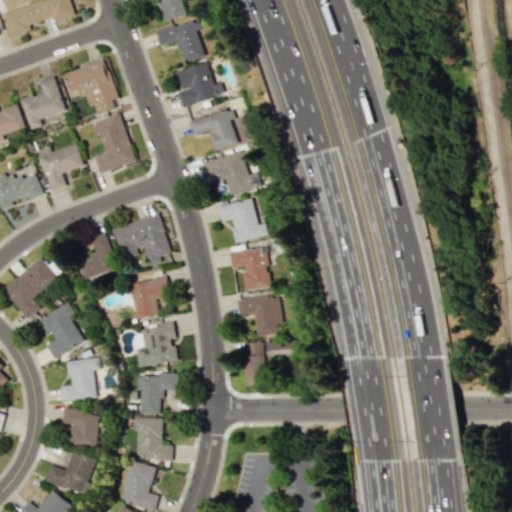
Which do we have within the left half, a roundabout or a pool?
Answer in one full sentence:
It is a pool that can be seen within the left half.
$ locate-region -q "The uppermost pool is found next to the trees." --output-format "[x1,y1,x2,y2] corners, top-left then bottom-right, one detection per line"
[219,60,240,91]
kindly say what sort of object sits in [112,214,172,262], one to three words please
house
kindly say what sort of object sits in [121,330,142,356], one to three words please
swimming pool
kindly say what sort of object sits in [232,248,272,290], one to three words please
house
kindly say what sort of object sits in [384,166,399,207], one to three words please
vehicle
